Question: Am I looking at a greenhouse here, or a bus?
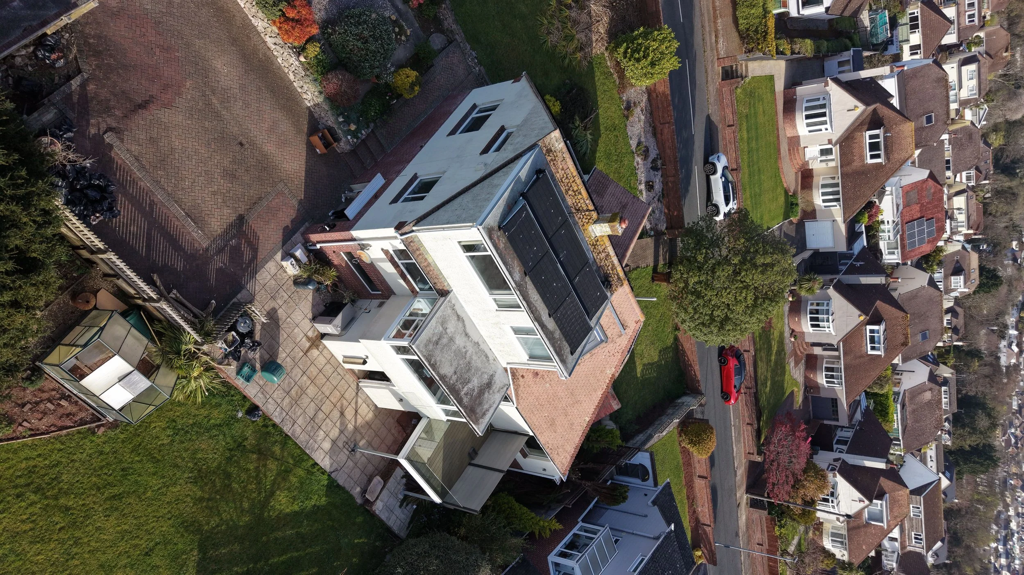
greenhouse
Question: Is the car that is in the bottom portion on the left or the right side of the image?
right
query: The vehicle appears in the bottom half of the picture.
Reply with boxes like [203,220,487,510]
[717,346,748,409]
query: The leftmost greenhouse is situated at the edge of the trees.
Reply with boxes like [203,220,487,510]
[38,309,184,431]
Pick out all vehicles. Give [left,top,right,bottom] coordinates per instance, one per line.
[704,158,739,221]
[717,346,748,409]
